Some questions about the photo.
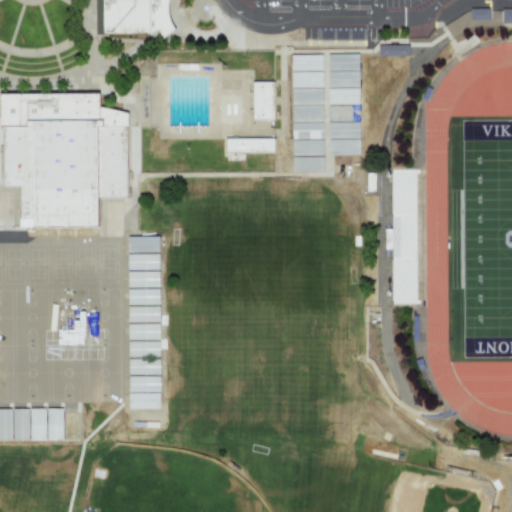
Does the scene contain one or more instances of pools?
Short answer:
Yes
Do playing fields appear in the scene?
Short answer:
Yes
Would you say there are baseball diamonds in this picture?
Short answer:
Yes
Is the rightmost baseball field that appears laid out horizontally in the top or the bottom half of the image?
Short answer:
bottom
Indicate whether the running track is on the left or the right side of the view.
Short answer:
right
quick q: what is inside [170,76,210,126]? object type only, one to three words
swimming pool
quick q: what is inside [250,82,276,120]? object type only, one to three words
building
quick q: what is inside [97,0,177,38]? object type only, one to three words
building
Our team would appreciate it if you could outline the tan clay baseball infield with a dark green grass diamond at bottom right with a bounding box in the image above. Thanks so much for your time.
[391,472,495,512]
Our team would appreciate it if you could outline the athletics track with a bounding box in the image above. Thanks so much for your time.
[427,42,512,436]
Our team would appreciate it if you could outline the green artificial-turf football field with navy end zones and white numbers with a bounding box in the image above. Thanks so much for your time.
[449,118,512,362]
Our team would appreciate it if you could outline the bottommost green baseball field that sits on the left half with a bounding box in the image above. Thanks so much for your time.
[87,443,272,512]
